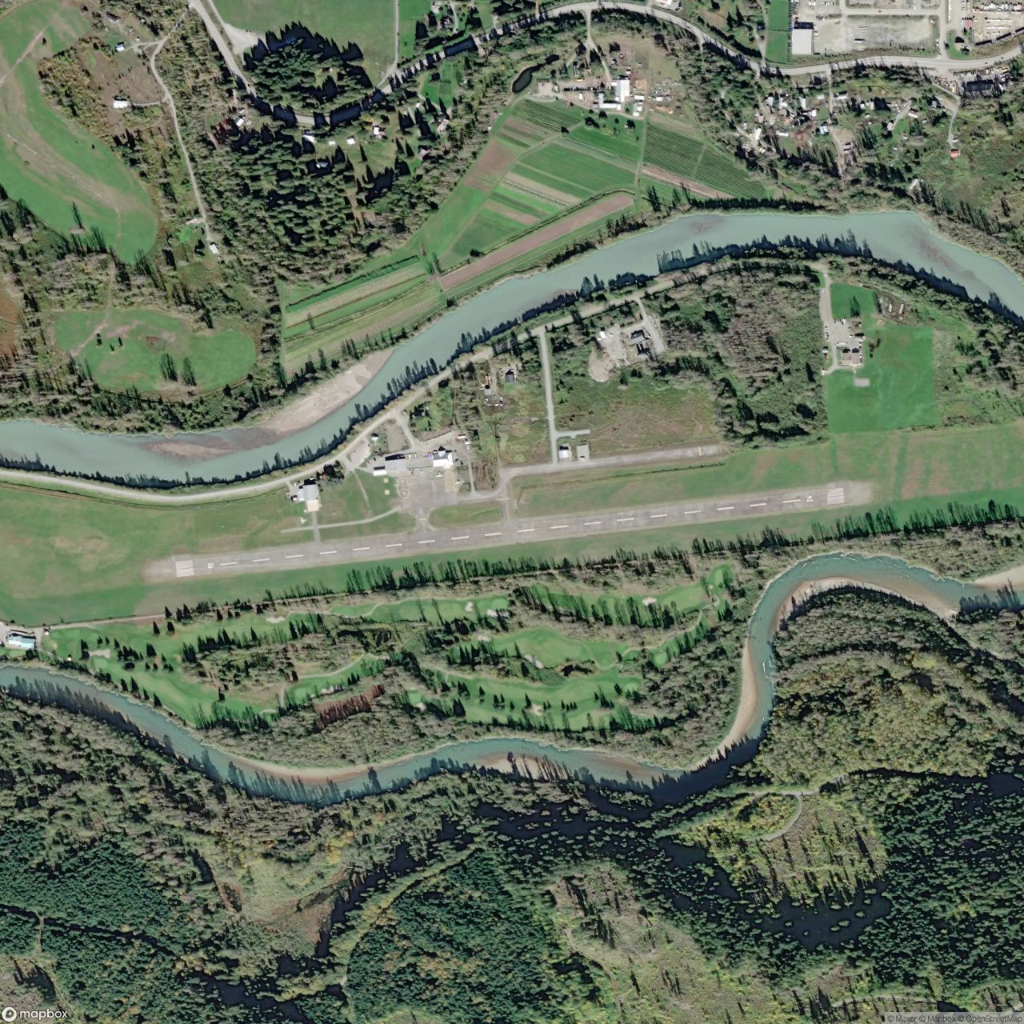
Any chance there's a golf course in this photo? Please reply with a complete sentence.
Yes, I can see a golf course in this picture.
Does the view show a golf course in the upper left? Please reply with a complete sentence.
No, the scene shows no golf course in the upper left.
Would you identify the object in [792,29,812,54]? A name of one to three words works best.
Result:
building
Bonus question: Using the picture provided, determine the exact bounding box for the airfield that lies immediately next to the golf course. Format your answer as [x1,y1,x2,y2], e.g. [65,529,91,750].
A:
[172,445,855,581]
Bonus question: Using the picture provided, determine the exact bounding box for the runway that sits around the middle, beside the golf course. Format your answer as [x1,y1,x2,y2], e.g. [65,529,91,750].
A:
[173,483,846,579]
